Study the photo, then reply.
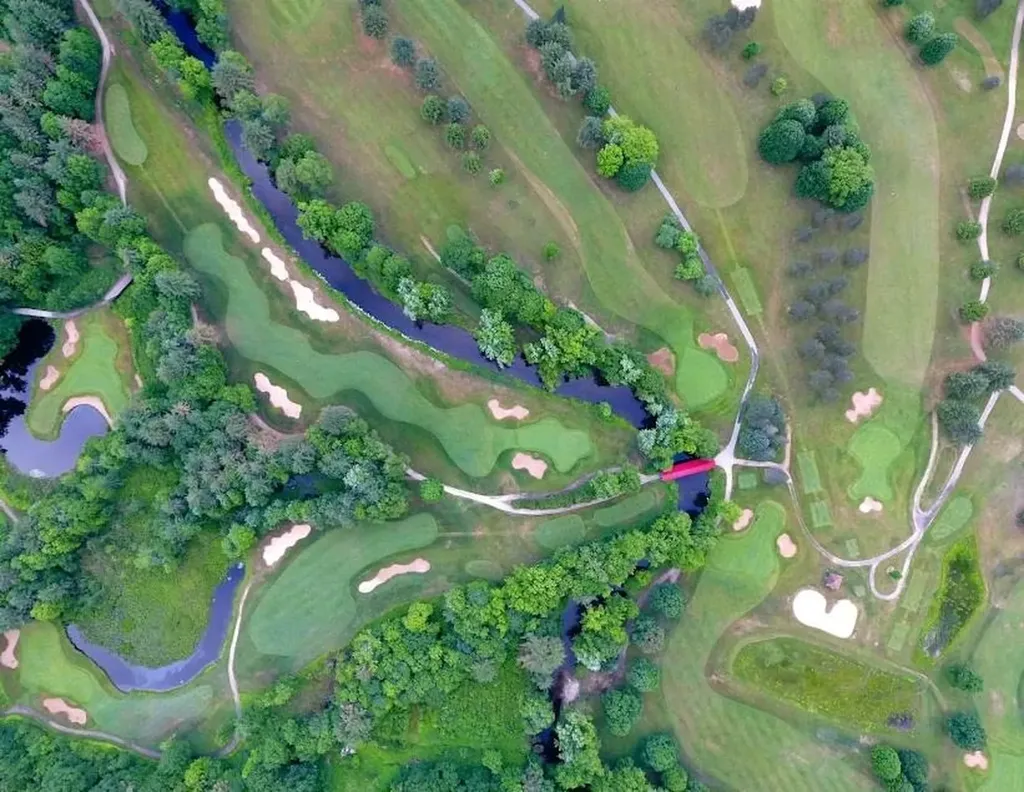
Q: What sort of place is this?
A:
golf course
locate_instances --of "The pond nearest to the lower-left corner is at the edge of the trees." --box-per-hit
[68,559,248,691]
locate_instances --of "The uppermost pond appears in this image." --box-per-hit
[0,317,104,477]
